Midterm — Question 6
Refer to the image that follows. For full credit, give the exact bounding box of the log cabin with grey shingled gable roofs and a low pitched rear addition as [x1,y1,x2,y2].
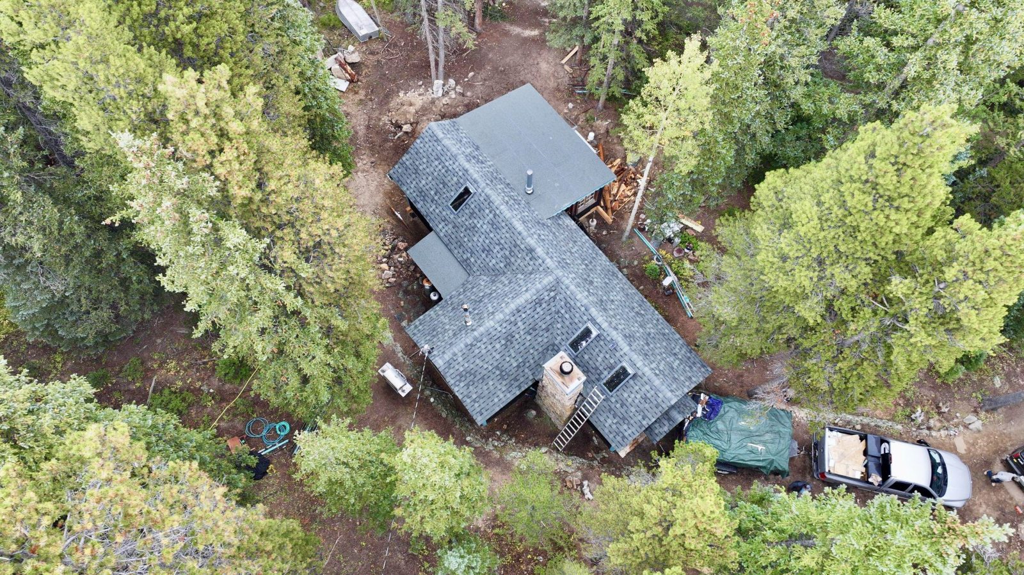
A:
[387,84,712,454]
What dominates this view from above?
trees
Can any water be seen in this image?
No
